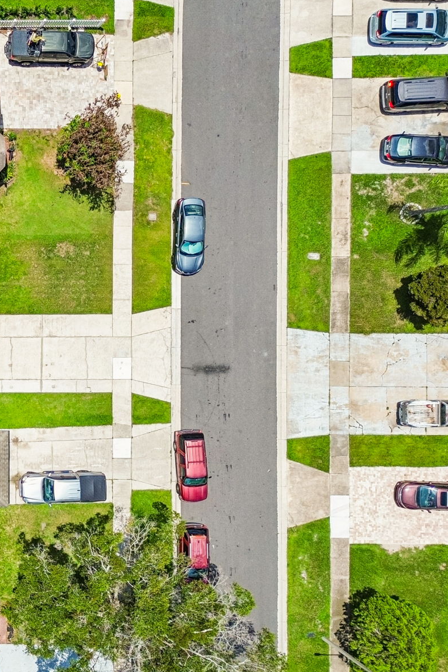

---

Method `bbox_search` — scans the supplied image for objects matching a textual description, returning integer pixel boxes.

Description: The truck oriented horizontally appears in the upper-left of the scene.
[1,27,92,68]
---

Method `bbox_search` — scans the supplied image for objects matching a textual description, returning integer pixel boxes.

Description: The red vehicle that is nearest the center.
[172,428,213,501]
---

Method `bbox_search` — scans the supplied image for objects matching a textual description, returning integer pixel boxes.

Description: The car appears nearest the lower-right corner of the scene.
[397,479,448,515]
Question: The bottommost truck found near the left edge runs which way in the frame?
from left to right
